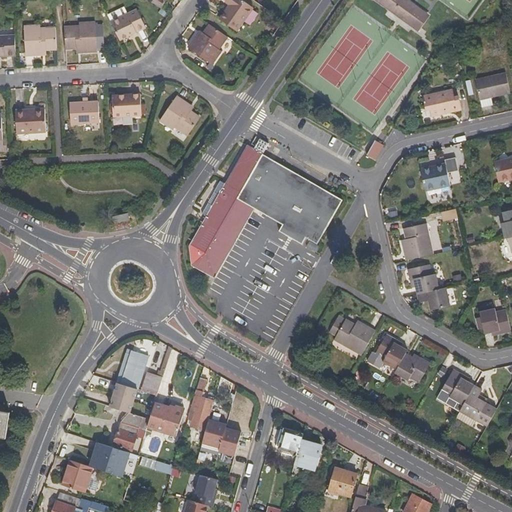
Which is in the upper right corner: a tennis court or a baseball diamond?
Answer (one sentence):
The one visible in the upper right corner is a tennis court.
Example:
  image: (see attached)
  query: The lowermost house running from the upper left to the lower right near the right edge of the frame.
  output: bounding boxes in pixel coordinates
[442,370,498,427]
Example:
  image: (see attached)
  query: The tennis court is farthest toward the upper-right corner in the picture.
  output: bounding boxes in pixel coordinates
[438,0,488,20]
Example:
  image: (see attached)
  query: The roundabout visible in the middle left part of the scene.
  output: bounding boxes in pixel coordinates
[109,260,156,306]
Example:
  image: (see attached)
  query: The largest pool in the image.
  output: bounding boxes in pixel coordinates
[148,436,160,454]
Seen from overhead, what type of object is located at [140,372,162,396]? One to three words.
building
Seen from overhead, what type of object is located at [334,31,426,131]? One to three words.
tennis court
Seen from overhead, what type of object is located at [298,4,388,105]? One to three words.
tennis court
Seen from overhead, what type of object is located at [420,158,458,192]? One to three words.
house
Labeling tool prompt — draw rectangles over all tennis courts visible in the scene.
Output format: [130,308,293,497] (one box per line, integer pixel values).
[438,0,488,20]
[298,4,388,105]
[334,31,426,131]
